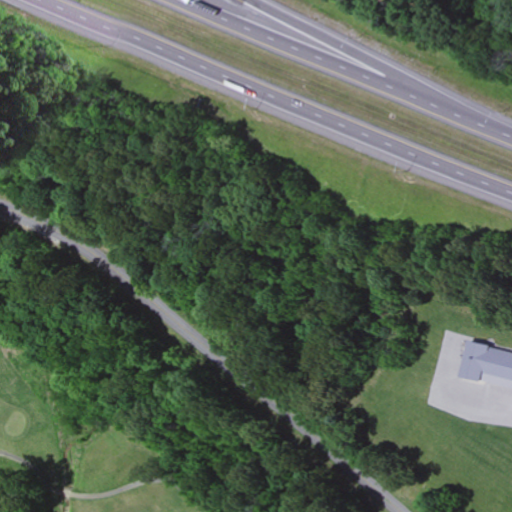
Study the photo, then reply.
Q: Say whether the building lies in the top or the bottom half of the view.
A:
bottom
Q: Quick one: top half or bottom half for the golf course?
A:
bottom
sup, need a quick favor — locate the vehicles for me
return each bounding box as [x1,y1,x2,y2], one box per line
[221,79,254,98]
[292,100,302,106]
[184,0,220,14]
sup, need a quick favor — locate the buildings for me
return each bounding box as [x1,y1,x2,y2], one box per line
[458,341,512,382]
